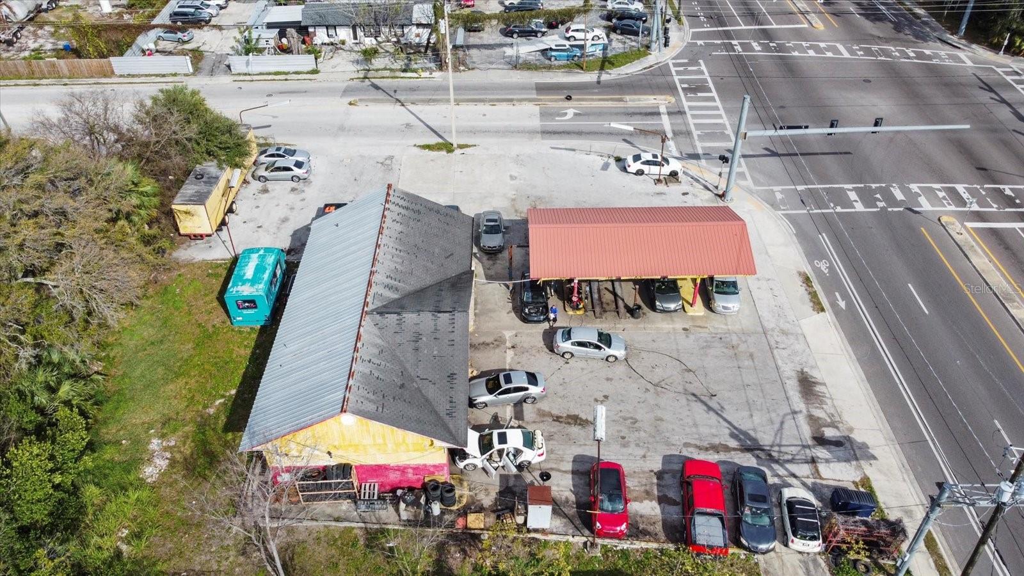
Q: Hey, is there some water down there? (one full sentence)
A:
No, no water is visible.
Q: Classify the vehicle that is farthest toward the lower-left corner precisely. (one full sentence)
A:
What you see as the vehicle that is farthest toward the lower-left corner is a truck.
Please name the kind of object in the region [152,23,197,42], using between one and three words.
car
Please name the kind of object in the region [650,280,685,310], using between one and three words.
car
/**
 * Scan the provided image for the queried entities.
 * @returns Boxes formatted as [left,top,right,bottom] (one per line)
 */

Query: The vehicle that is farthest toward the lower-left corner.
[225,253,289,327]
